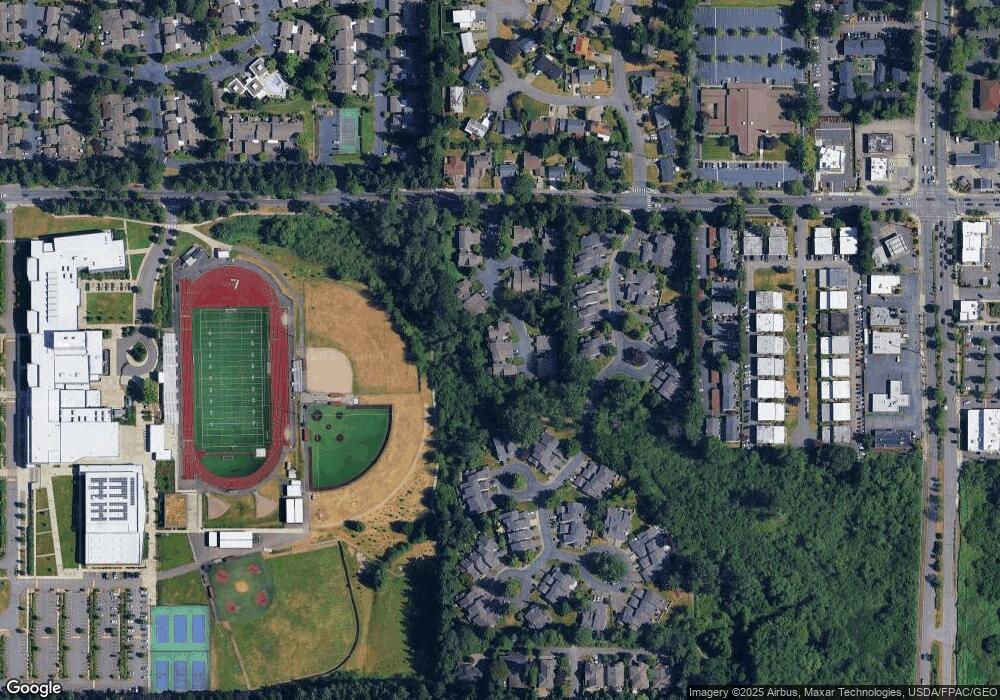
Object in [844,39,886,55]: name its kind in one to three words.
building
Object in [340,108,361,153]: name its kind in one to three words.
tennis court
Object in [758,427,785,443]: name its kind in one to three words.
house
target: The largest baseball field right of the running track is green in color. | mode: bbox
[302,402,392,490]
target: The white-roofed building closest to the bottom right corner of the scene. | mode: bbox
[968,410,1000,452]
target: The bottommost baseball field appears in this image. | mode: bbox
[212,556,274,624]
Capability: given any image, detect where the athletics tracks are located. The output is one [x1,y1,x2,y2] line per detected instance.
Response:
[181,265,289,489]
